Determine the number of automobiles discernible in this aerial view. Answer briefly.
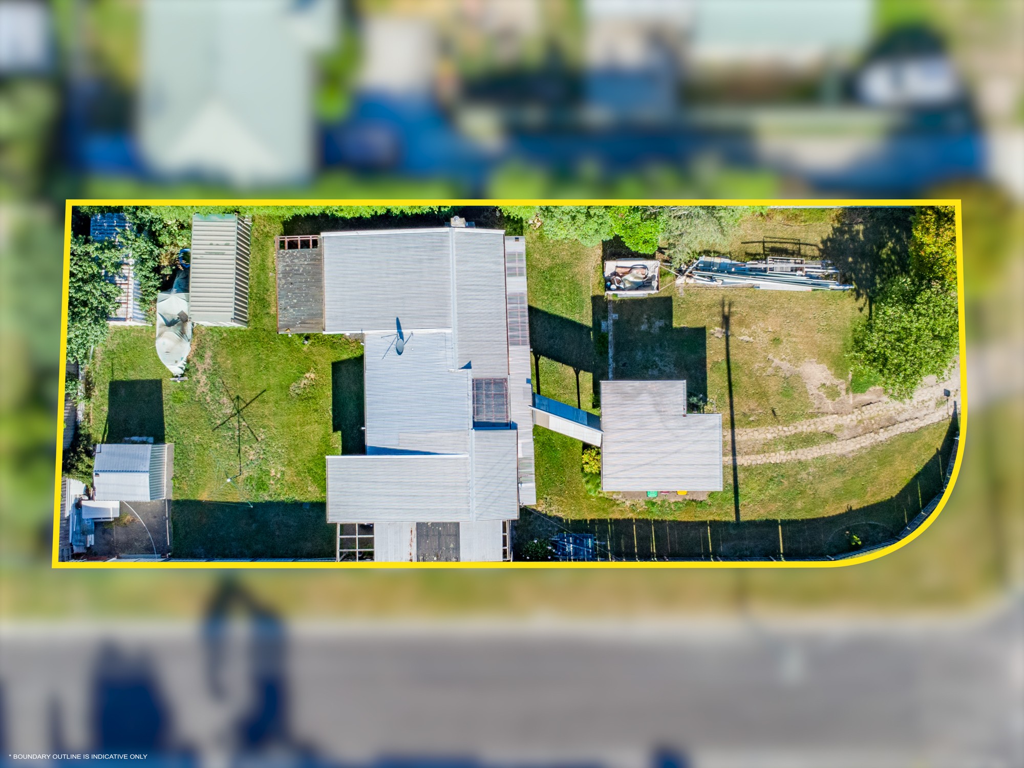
2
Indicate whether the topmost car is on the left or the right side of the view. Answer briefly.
right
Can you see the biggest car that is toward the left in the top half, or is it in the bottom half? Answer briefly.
top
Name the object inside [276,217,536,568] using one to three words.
house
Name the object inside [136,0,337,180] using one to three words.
house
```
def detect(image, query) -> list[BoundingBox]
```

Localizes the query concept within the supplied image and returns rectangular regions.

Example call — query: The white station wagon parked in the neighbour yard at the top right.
[859,60,962,107]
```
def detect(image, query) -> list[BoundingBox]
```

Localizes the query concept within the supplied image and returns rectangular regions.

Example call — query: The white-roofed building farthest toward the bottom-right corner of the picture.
[598,380,723,492]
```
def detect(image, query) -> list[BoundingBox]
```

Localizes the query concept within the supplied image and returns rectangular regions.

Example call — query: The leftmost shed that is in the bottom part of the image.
[93,443,167,501]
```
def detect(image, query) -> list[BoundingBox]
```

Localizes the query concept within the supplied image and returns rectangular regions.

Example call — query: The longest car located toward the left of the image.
[336,126,409,171]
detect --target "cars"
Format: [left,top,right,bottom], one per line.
[336,126,409,171]
[859,60,962,107]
